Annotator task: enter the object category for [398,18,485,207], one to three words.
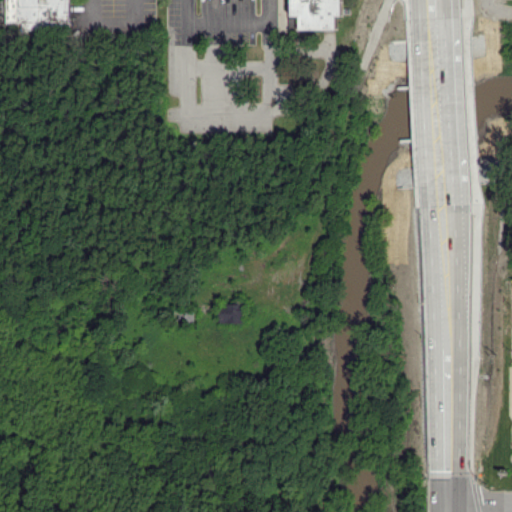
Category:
bridge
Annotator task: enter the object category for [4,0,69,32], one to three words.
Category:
building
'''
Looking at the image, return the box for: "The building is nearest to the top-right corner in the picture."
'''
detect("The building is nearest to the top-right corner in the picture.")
[288,0,343,32]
